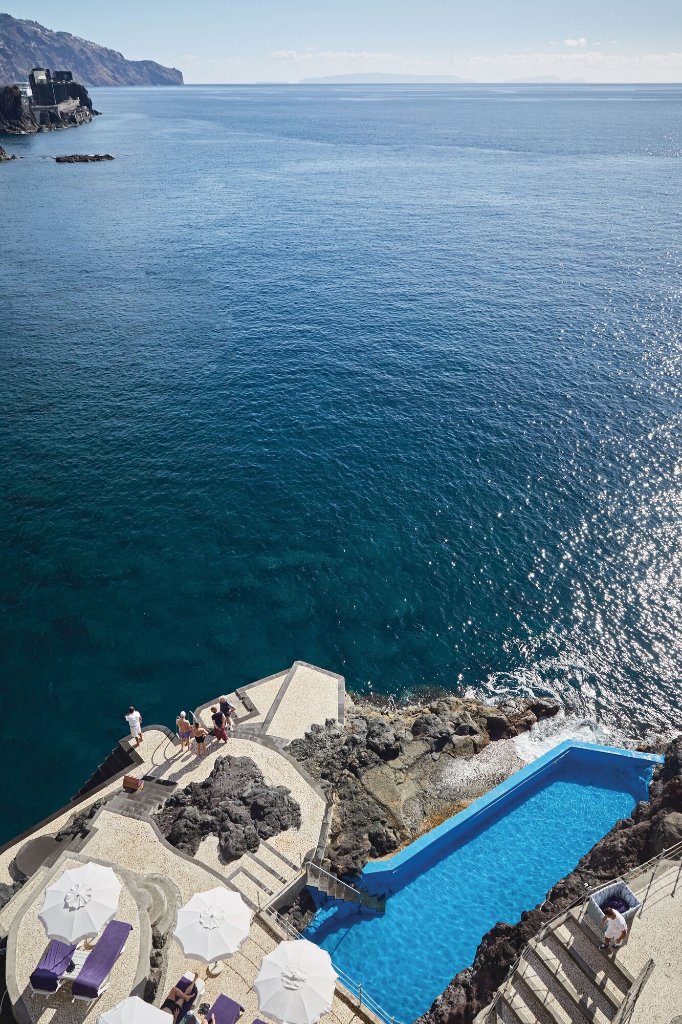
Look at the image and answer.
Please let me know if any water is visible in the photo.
Yes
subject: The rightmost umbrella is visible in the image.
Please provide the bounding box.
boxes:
[256,937,341,1024]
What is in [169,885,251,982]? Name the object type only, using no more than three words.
umbrella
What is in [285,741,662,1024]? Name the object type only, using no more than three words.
swimming pool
